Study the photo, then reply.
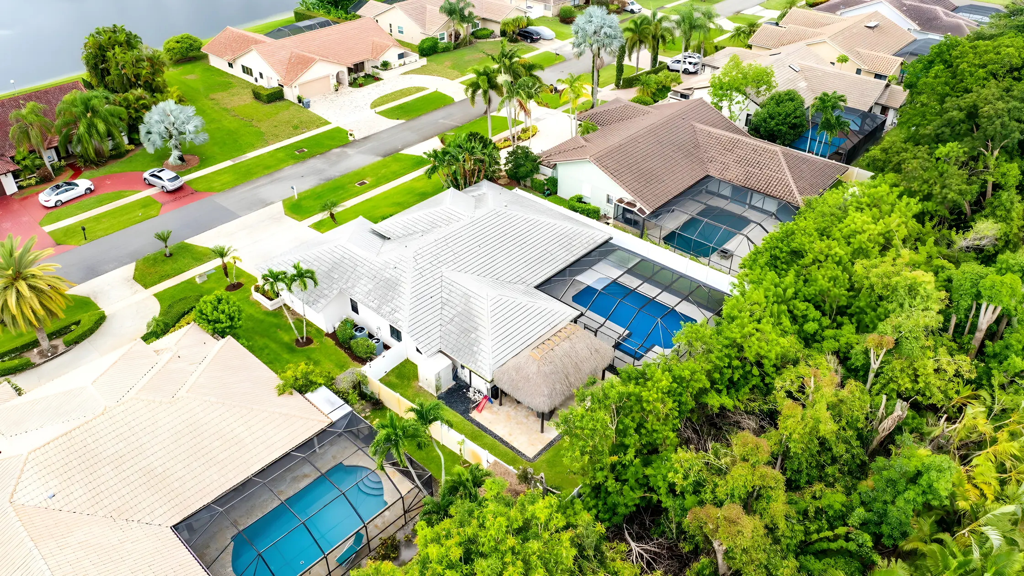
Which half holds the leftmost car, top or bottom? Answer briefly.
top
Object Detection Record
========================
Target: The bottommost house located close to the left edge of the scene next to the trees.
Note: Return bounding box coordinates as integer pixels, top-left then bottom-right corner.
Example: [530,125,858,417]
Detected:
[0,322,332,576]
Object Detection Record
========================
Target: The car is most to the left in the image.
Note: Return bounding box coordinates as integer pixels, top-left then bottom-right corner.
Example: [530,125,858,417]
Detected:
[36,181,92,205]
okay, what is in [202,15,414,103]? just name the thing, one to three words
house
